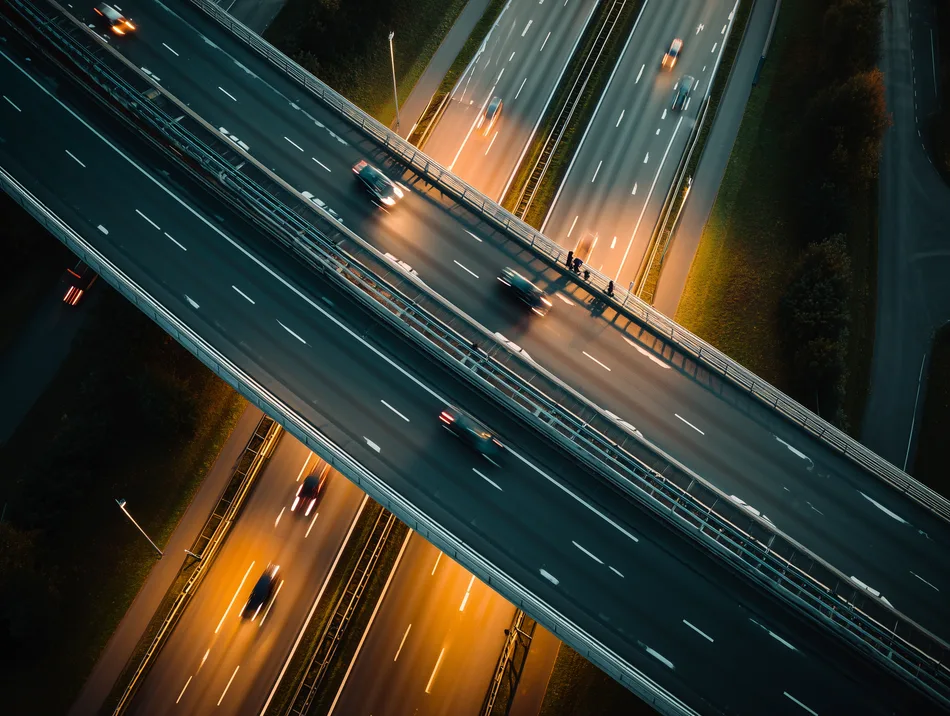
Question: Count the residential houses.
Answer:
0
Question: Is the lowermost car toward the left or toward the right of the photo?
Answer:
left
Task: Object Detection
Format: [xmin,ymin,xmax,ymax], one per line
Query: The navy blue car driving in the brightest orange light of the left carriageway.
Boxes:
[239,567,279,621]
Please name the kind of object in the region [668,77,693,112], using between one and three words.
car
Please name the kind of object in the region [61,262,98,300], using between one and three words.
truck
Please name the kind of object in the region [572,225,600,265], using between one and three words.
car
